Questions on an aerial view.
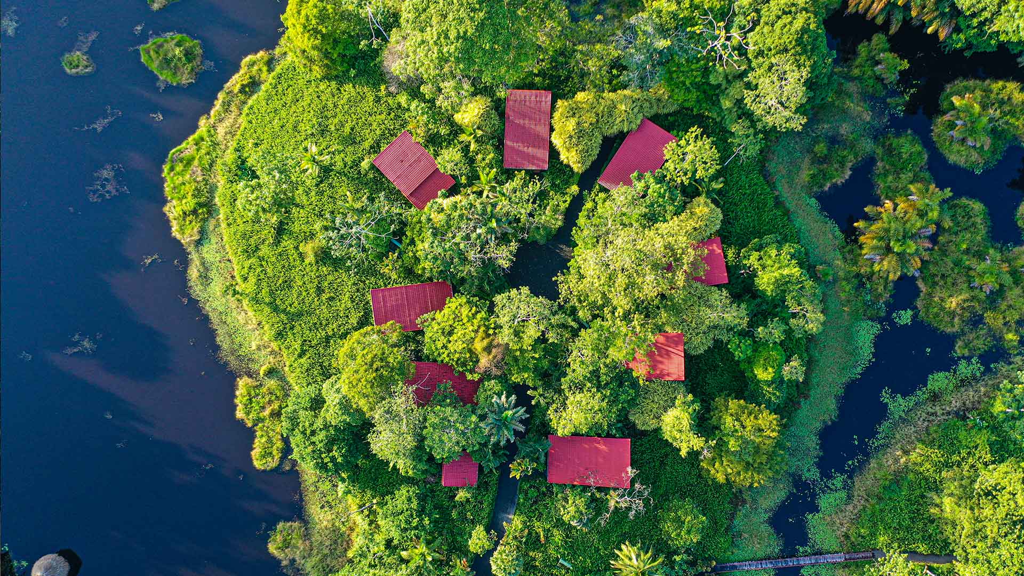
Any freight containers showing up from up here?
No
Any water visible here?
Yes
